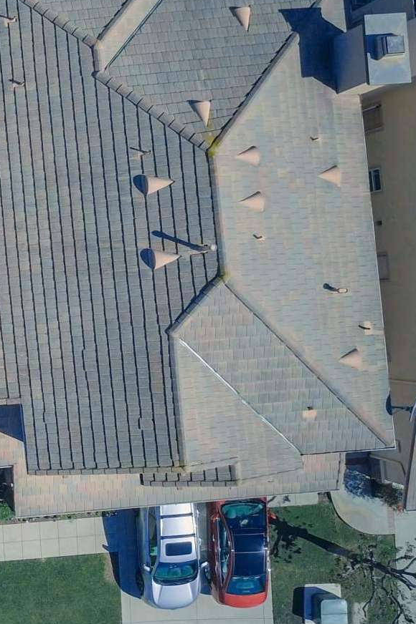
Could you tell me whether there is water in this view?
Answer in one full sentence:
No, the picture contains no water.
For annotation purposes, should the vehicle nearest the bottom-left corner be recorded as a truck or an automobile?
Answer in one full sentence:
I'd say the vehicle nearest the bottom-left corner is an automobile.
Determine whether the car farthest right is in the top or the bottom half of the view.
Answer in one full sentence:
The car farthest right sits in the bottom half of the picture.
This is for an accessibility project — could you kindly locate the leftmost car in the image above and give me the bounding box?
[138,503,207,611]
